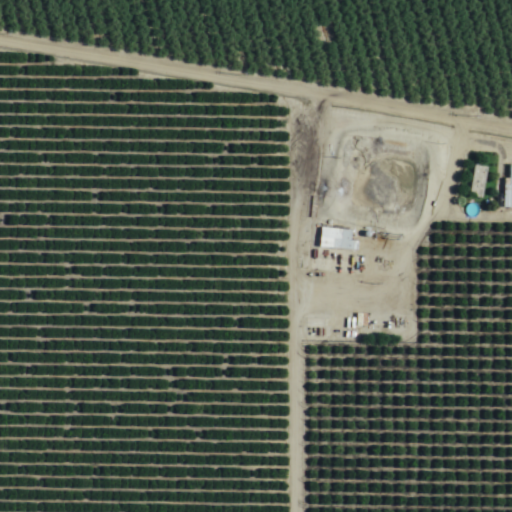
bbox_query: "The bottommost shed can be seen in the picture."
[321,227,359,250]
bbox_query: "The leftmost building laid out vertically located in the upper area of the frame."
[473,164,490,196]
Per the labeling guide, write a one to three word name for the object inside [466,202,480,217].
swimming pool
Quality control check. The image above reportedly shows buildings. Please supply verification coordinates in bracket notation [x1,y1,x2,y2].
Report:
[505,176,512,206]
[473,164,490,196]
[321,227,359,250]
